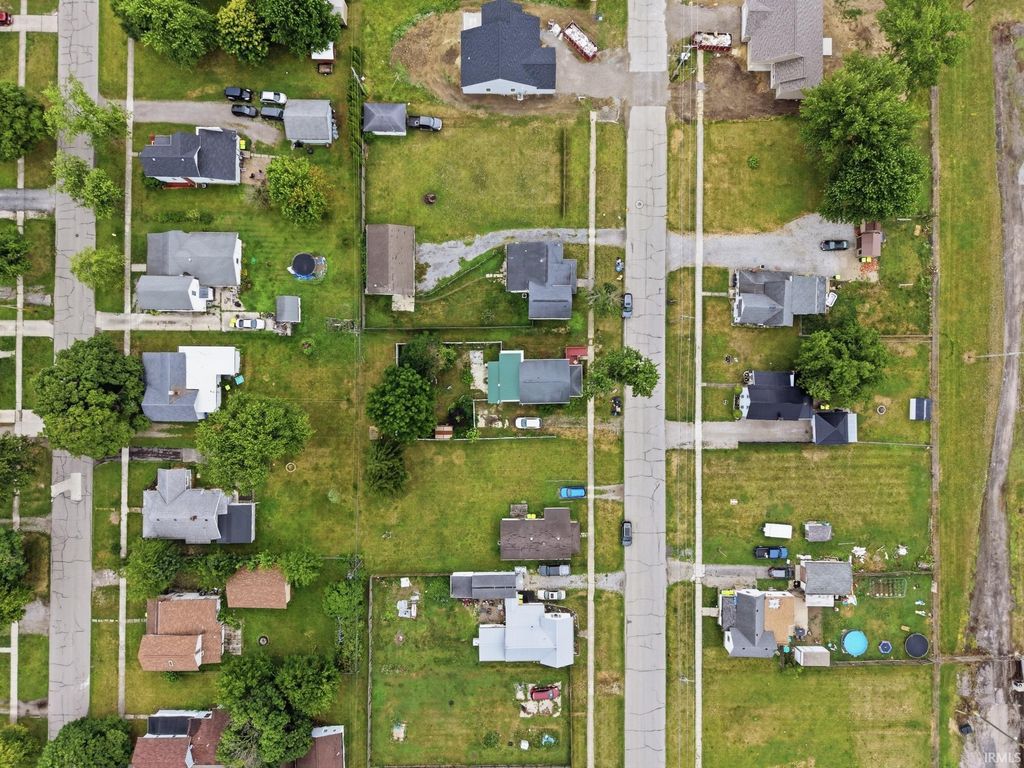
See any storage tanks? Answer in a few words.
No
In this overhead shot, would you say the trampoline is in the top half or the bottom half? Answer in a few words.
bottom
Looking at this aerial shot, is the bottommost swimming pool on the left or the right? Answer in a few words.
right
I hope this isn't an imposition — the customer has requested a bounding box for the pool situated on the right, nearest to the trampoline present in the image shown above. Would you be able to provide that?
[838,629,869,657]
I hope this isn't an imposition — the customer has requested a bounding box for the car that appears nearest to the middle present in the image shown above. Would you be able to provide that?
[514,416,541,430]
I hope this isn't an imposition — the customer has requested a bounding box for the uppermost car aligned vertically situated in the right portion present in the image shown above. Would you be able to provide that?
[620,292,634,320]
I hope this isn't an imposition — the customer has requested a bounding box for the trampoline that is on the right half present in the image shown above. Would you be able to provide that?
[903,634,928,657]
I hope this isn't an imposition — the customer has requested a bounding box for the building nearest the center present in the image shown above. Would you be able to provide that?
[488,347,588,404]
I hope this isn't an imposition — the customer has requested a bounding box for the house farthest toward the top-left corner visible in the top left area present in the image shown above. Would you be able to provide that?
[136,128,243,190]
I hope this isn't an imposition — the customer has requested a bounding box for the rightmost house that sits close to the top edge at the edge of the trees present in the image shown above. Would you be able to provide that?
[740,0,833,96]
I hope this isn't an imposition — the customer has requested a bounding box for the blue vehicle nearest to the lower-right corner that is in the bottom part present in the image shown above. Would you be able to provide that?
[754,546,788,561]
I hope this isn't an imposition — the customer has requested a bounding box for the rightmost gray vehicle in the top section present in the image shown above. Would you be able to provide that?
[819,238,849,252]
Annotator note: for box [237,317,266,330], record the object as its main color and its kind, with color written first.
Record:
white vehicle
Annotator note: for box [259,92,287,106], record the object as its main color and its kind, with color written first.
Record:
white car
